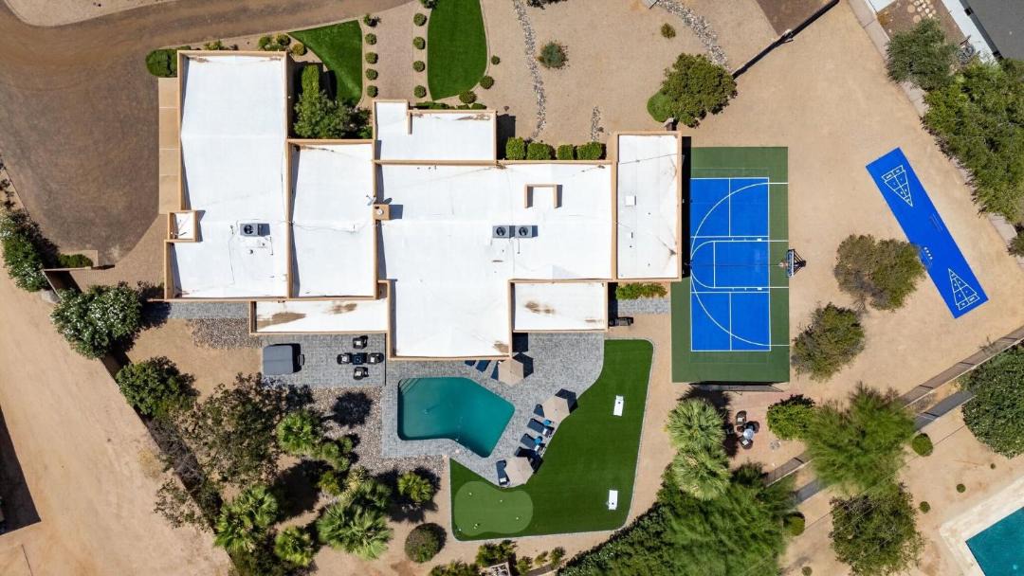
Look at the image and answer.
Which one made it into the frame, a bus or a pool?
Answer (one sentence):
Of the two, only a pool appears.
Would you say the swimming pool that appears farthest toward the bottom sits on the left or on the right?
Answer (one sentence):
The swimming pool that appears farthest toward the bottom appears in the right half of the scene.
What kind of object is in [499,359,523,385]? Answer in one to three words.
umbrella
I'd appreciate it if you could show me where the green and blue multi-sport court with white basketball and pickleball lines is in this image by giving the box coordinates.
[670,147,789,383]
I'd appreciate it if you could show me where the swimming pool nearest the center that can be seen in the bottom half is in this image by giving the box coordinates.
[394,373,519,462]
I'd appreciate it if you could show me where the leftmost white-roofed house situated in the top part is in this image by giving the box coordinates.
[161,50,682,360]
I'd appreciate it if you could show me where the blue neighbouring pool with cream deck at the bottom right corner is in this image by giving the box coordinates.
[940,477,1024,576]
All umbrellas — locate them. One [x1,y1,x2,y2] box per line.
[542,396,569,423]
[499,359,523,385]
[506,455,531,484]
